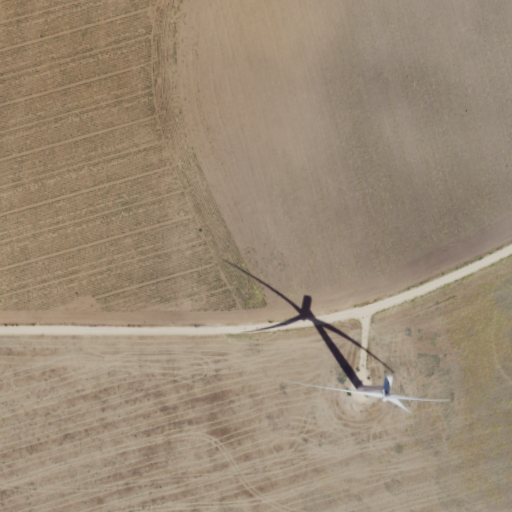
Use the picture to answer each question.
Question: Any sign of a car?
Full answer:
No, I can't see a single car in this photo.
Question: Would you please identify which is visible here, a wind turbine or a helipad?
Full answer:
There is a wind turbine in the scene.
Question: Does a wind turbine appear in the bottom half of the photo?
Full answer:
Yes, a wind turbine shows up in the bottom half of the photo.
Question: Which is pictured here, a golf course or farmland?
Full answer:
This looks like farmland.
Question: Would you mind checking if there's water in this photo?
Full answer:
No, water can't be seen anywhere here.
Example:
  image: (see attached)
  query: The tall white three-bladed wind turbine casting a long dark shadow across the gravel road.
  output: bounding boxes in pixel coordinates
[289,374,444,418]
